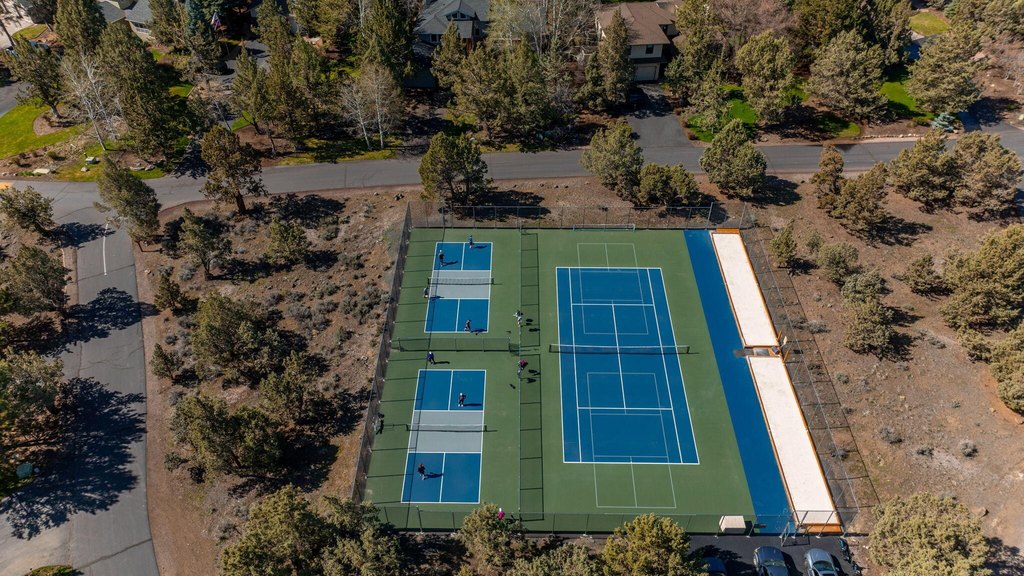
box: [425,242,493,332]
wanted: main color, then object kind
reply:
blue sports court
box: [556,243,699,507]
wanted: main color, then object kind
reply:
blue tennis court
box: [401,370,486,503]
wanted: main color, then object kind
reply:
blue sports court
